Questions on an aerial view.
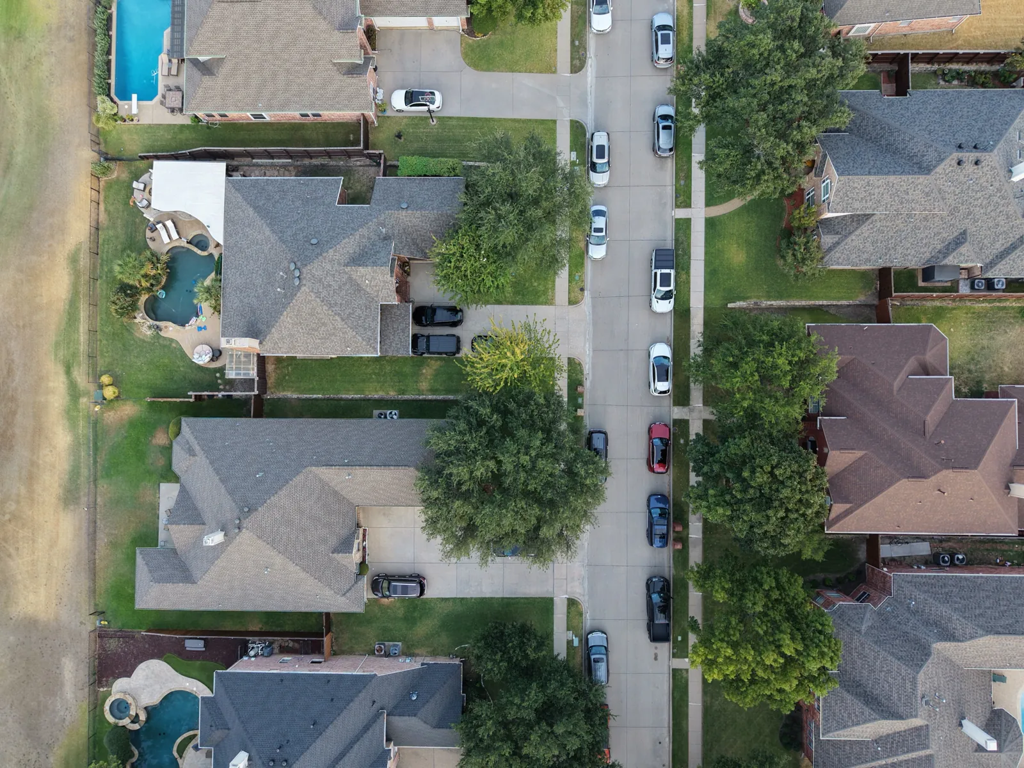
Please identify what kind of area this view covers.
residential area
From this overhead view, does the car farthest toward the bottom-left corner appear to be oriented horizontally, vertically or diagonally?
horizontally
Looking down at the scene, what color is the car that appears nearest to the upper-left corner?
white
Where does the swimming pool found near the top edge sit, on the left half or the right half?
left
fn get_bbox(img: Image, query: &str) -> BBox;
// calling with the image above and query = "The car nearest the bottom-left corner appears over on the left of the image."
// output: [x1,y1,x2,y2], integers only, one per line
[371,572,427,600]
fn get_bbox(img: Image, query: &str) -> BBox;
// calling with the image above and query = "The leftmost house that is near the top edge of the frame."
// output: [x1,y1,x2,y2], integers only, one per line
[184,0,470,125]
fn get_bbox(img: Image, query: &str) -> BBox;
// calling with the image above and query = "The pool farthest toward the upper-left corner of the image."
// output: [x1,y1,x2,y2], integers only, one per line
[111,0,176,104]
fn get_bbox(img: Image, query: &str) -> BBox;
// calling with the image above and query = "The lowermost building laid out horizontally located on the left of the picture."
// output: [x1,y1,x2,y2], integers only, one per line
[198,654,466,768]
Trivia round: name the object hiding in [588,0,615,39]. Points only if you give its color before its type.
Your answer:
white car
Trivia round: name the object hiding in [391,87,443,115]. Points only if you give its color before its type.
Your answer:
white car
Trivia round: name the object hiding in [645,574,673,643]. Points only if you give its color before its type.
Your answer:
black truck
